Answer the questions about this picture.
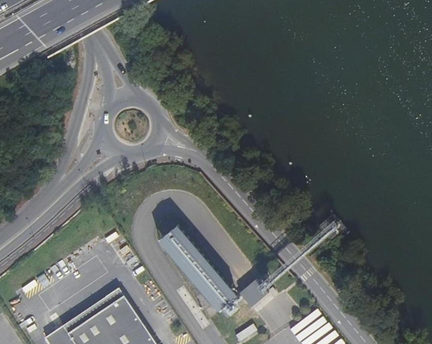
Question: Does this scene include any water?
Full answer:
Yes, the picture does contain water.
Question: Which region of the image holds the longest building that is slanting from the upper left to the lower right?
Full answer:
You can find the longest building that is slanting from the upper left to the lower right in the bottom area of the picture.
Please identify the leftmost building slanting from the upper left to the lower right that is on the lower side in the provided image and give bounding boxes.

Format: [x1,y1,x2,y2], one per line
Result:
[158,224,244,318]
